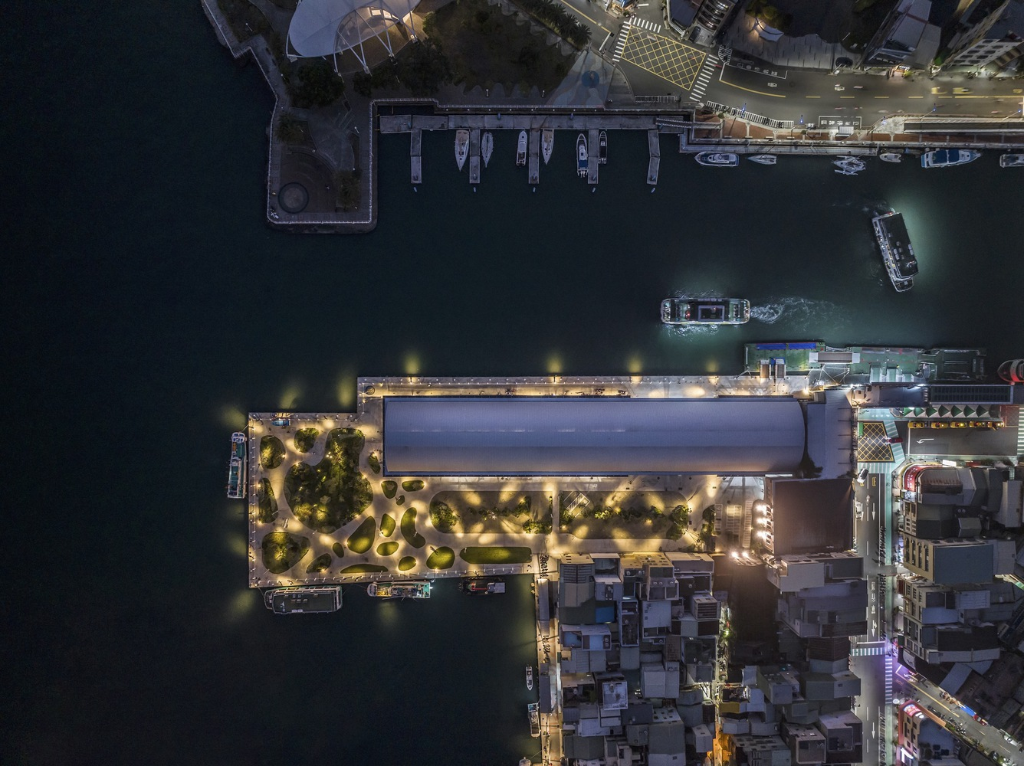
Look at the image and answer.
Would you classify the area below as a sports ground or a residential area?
residential area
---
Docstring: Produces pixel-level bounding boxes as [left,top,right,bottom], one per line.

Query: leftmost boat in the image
[226,432,252,500]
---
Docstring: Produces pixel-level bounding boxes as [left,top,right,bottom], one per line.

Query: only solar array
[932,387,1010,403]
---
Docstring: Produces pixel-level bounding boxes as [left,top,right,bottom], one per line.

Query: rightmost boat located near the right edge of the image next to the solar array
[992,360,1024,383]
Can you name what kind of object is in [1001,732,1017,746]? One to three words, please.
car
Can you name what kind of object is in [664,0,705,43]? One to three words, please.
house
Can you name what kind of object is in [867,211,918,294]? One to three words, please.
vessel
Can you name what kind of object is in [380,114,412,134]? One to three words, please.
pier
